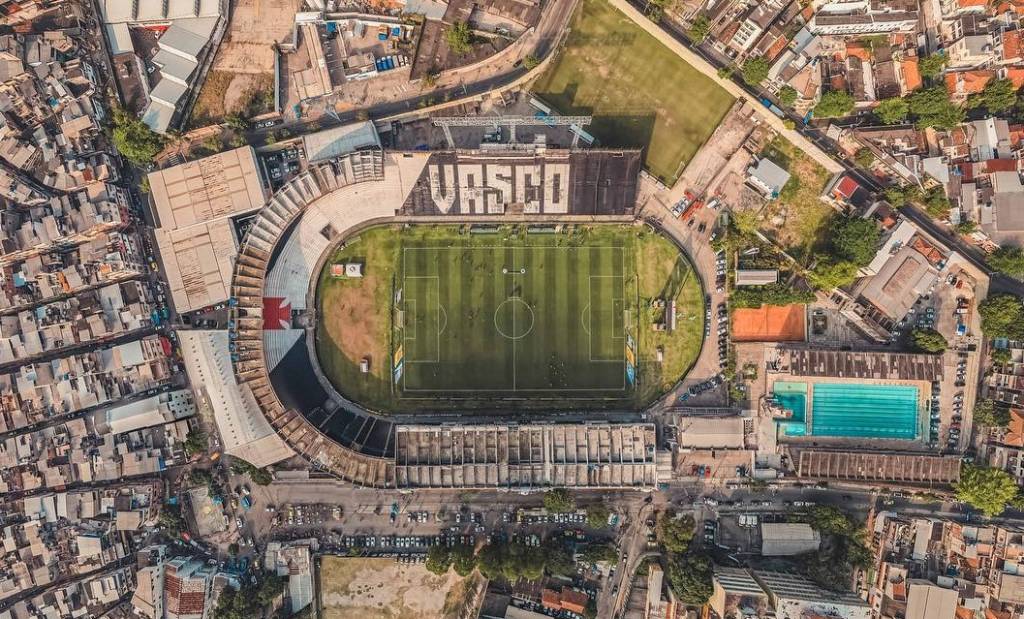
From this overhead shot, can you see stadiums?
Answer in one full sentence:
Yes, there's a stadium here.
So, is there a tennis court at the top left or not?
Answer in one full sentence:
No, no tennis court is visible at the top left.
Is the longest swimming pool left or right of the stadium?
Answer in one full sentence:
Looking at the picture, you'll find the longest swimming pool to the right of the stadium.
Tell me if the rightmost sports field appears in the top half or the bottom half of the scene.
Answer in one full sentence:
Seen from above, the rightmost sports field lies in the top half of the view.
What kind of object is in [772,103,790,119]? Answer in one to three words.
vehicle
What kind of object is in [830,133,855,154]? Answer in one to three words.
house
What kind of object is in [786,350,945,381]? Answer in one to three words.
shed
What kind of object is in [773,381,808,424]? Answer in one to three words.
swimming pool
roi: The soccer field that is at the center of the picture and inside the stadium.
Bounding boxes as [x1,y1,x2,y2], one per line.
[400,242,629,400]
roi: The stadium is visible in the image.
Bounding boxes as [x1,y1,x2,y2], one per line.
[228,136,708,489]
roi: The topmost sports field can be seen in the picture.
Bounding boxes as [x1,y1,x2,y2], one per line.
[534,0,736,186]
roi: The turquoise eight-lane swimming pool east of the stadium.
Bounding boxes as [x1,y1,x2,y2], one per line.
[768,376,932,451]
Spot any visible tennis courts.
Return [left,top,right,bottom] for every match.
[734,304,800,341]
